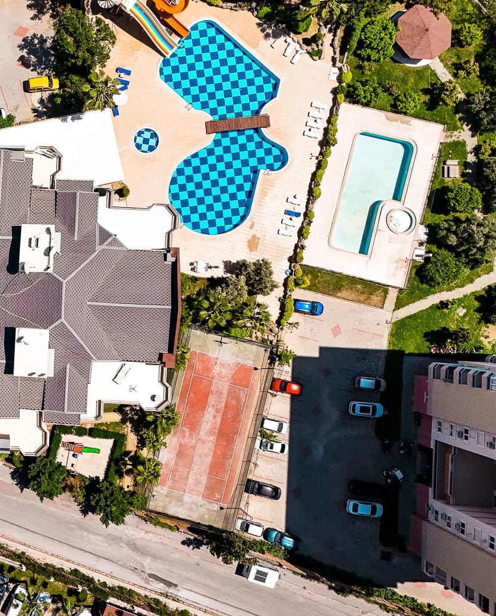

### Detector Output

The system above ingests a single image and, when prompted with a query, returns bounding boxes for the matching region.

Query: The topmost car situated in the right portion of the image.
[296,301,322,315]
